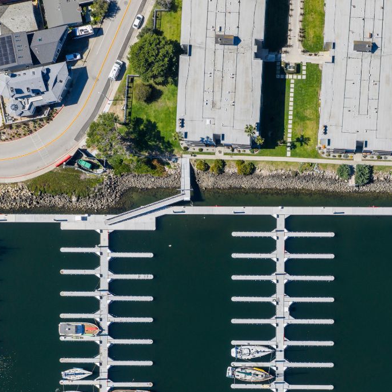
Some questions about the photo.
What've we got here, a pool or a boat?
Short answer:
boat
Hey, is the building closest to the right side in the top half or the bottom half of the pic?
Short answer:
top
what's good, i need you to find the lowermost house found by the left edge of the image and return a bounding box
[0,61,73,126]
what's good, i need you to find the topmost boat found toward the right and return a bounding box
[230,344,275,360]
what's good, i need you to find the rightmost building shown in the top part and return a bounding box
[318,0,392,158]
